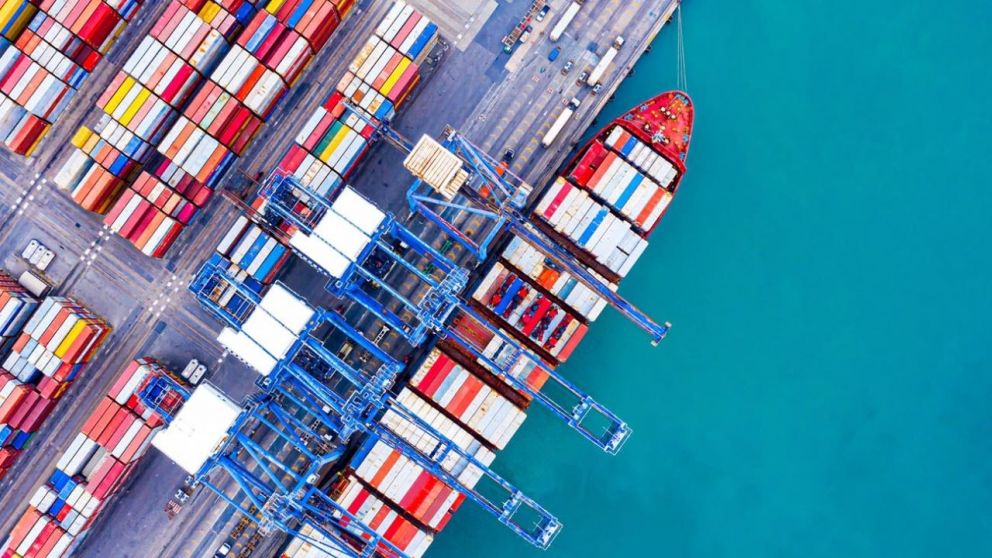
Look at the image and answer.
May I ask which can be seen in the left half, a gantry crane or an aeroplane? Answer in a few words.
gantry crane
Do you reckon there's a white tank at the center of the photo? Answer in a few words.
No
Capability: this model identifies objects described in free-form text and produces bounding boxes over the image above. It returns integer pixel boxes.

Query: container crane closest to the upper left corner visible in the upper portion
[216,164,318,249]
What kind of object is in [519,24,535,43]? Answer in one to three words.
vehicle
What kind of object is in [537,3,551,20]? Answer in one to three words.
vehicle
